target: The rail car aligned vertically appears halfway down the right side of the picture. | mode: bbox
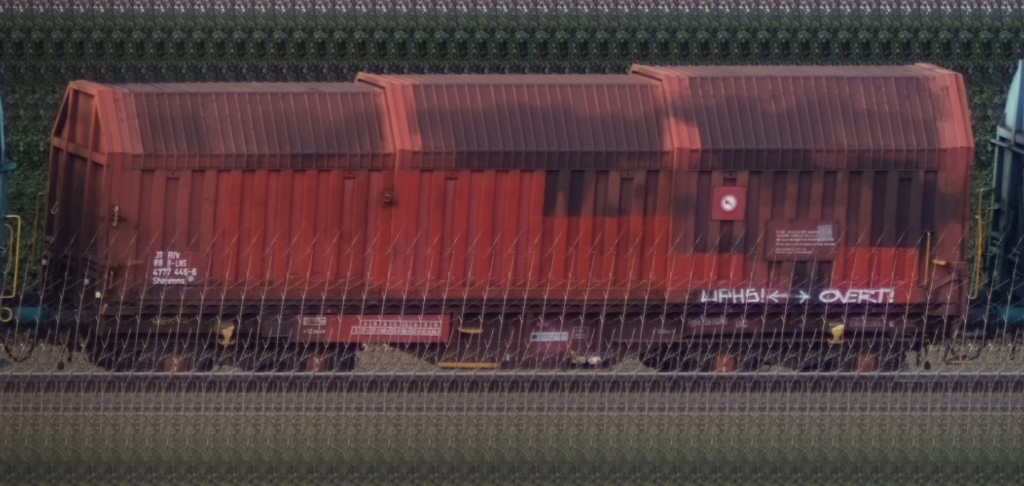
[965,57,1024,362]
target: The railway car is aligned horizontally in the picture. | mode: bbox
[0,61,1003,386]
